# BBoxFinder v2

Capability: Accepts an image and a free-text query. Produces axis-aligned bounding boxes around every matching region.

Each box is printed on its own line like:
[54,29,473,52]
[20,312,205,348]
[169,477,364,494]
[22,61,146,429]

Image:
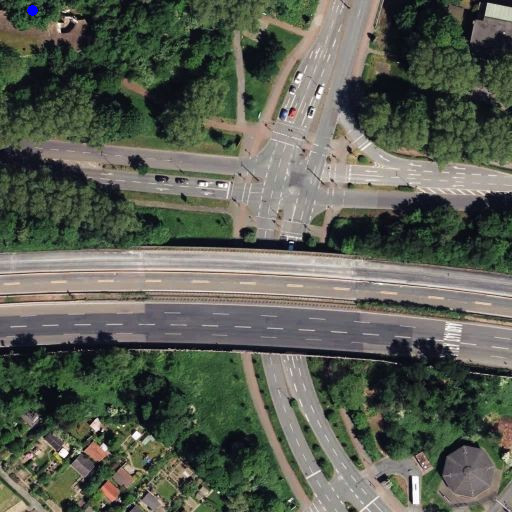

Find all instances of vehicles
[308,106,315,118]
[176,178,188,184]
[280,108,287,120]
[197,180,208,186]
[316,84,324,98]
[216,182,228,188]
[156,176,168,182]
[412,475,420,504]
[294,71,302,84]
[290,84,296,94]
[288,242,294,251]
[290,107,296,118]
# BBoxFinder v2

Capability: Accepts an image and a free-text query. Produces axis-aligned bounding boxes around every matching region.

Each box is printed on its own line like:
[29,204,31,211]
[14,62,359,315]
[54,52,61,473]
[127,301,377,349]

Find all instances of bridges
[0,248,512,380]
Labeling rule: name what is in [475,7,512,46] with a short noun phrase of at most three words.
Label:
building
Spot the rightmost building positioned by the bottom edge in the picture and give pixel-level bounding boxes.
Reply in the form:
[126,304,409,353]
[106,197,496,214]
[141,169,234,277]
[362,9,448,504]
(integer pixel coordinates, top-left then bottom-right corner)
[442,444,494,496]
